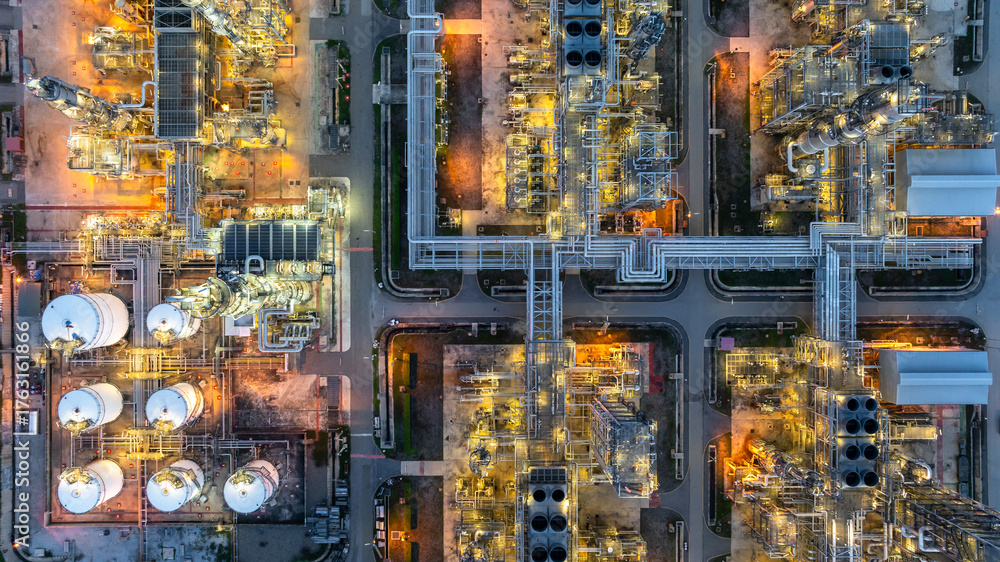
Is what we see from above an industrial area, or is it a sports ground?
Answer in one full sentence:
It's an industrial area.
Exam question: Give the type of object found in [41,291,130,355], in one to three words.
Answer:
storage tank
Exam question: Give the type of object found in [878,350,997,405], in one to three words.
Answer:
building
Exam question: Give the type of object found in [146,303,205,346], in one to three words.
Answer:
storage tank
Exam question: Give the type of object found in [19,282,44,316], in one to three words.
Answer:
building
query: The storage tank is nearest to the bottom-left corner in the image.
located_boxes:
[57,458,126,514]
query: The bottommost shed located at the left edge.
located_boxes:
[27,411,41,435]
